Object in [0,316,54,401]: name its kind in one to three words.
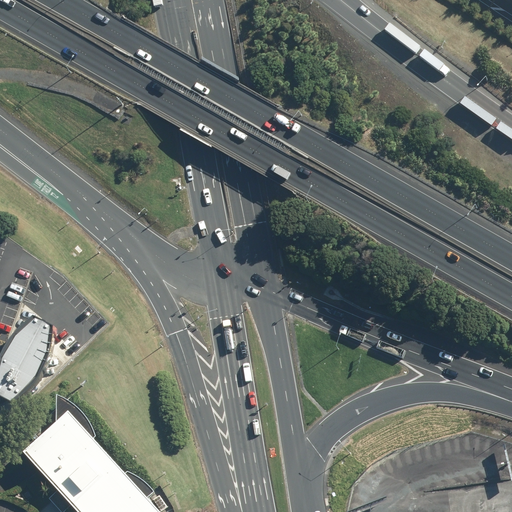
building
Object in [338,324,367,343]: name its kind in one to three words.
vehicle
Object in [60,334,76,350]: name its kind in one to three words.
car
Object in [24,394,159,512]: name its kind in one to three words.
building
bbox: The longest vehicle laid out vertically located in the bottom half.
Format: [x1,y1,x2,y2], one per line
[222,320,235,354]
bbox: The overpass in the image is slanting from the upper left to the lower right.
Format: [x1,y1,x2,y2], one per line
[138,26,292,191]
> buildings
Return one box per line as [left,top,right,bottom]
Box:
[0,316,54,401]
[24,394,159,512]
